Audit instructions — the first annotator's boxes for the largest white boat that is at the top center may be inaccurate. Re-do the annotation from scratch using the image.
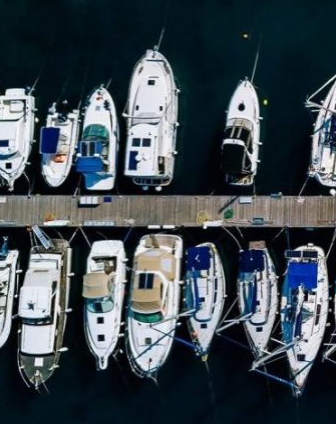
[123,41,185,186]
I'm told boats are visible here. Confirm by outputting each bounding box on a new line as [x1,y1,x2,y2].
[302,76,336,186]
[123,41,185,186]
[125,233,186,385]
[77,80,121,189]
[0,89,40,193]
[0,237,22,347]
[214,241,282,356]
[251,243,335,395]
[41,103,80,186]
[81,240,131,372]
[150,243,229,361]
[222,73,265,184]
[11,227,77,389]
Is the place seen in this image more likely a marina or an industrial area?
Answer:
marina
